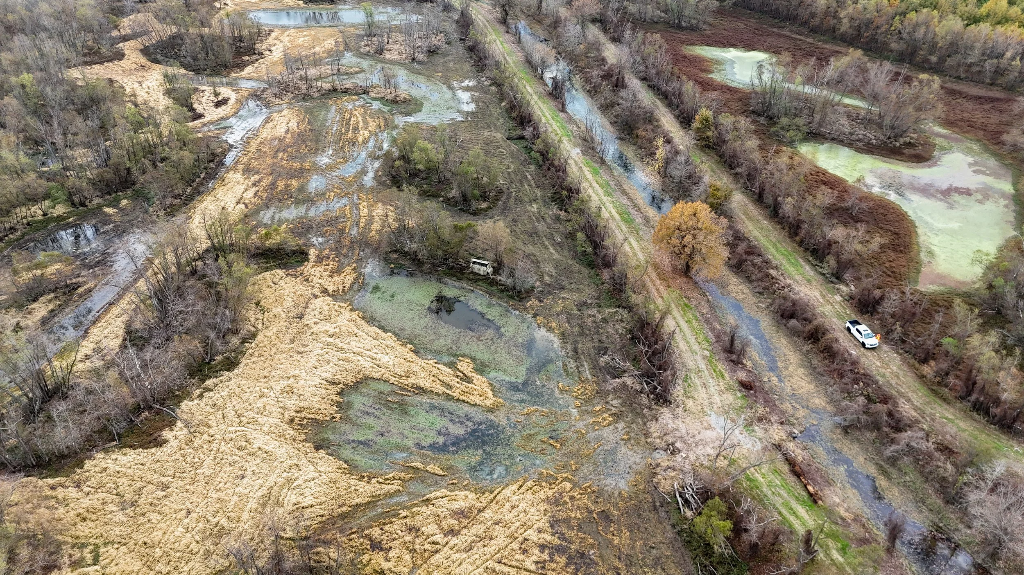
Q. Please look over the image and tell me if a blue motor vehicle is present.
No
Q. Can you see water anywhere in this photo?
Yes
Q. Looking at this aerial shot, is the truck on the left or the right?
right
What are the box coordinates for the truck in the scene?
[848,314,885,347]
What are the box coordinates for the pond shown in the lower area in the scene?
[304,253,590,544]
